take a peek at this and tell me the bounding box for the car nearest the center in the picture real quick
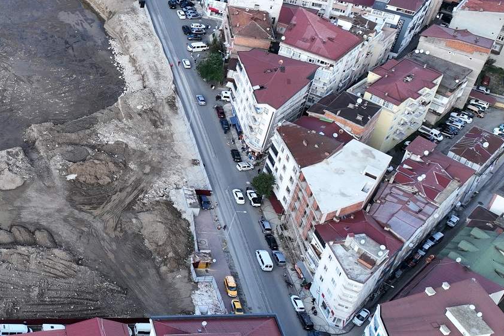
[236,159,255,172]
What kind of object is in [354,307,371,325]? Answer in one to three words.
car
